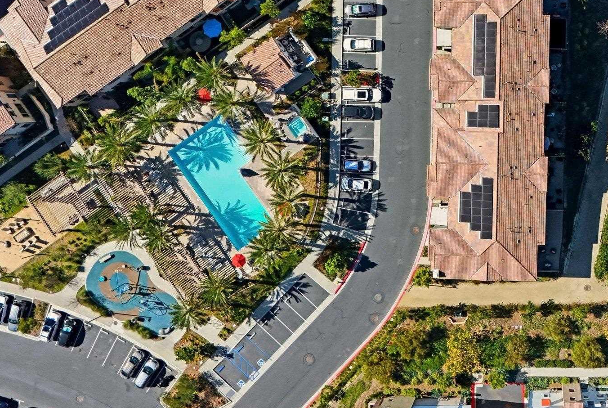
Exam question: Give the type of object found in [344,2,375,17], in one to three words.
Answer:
car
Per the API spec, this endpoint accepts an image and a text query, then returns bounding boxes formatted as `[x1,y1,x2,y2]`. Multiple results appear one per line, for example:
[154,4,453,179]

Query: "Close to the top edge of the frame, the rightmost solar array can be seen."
[473,15,496,98]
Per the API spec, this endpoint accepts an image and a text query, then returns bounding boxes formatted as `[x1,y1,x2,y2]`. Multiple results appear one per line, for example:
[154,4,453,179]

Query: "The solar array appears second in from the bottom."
[466,104,498,128]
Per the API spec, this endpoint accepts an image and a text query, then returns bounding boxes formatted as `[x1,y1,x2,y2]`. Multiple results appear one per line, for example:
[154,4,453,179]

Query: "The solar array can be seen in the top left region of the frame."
[48,0,105,50]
